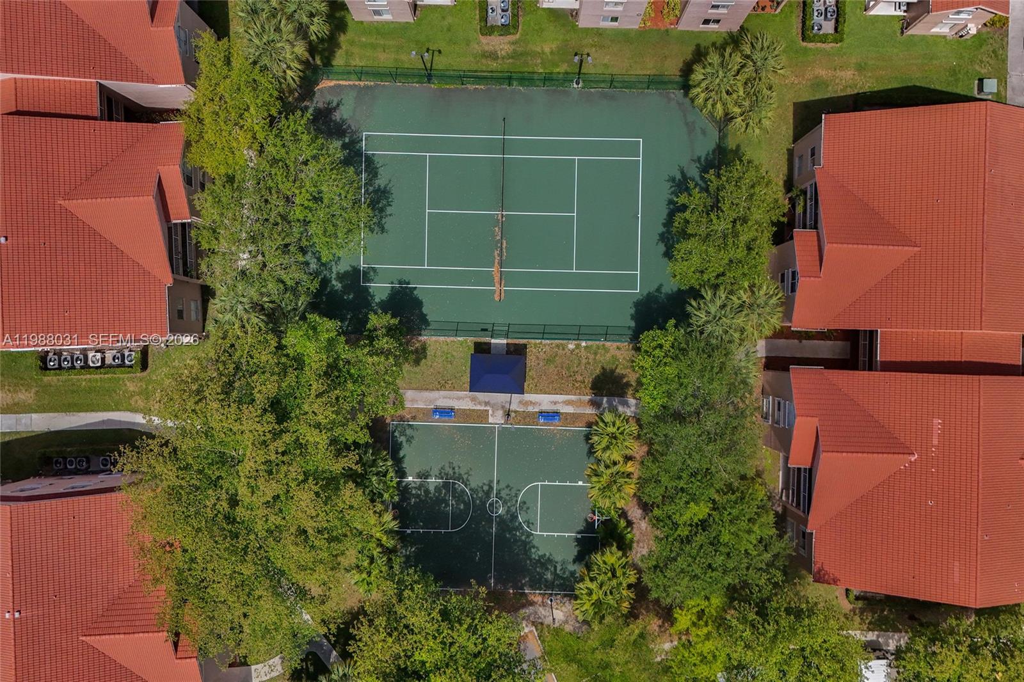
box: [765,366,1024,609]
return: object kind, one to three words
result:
building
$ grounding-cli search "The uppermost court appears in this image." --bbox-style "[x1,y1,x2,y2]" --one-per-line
[299,84,719,342]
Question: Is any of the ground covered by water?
No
